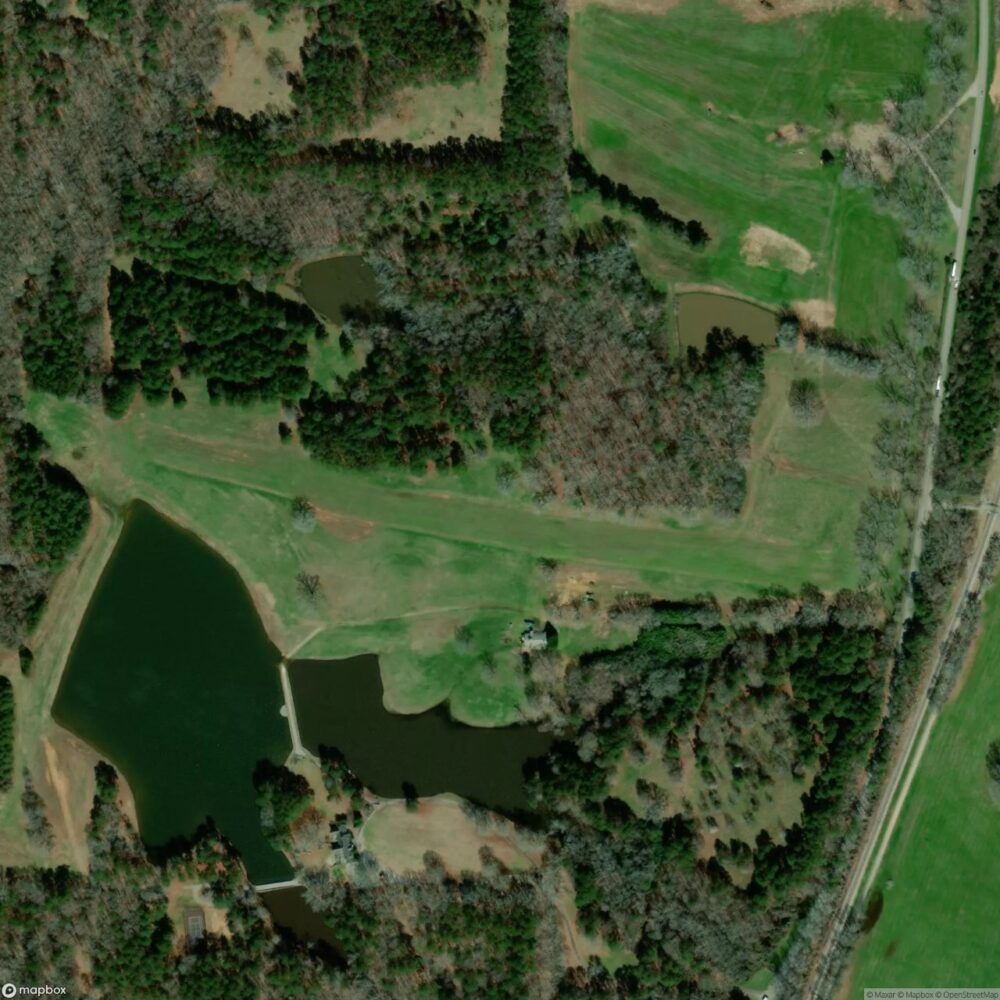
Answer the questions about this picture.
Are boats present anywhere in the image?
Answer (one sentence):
No, no boat can be seen from above.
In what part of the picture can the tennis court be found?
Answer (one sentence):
The tennis court sits in the bottom left section of the image.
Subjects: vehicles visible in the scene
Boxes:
[951,260,957,278]
[937,376,942,393]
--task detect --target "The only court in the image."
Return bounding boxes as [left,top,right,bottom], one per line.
[186,907,206,943]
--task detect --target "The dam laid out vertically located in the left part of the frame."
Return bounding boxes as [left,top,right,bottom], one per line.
[278,659,304,754]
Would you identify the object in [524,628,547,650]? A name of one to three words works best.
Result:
house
